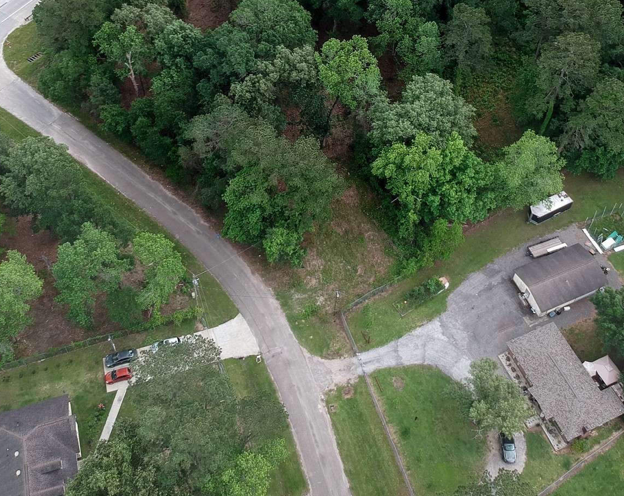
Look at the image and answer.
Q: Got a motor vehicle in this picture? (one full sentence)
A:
Yes, I can see a motor vehicle in this picture.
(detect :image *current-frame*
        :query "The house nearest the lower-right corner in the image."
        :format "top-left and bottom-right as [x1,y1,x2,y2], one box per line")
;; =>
[506,322,624,447]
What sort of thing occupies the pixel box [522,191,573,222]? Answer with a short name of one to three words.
trailer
